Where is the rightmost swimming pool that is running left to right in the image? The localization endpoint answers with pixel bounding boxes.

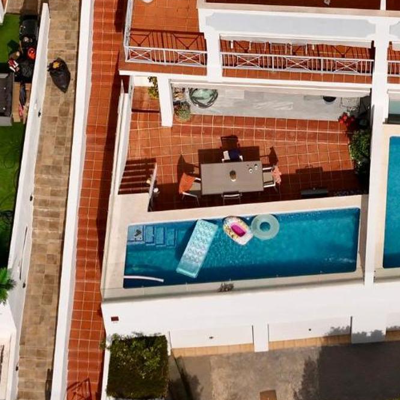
[103,195,368,293]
